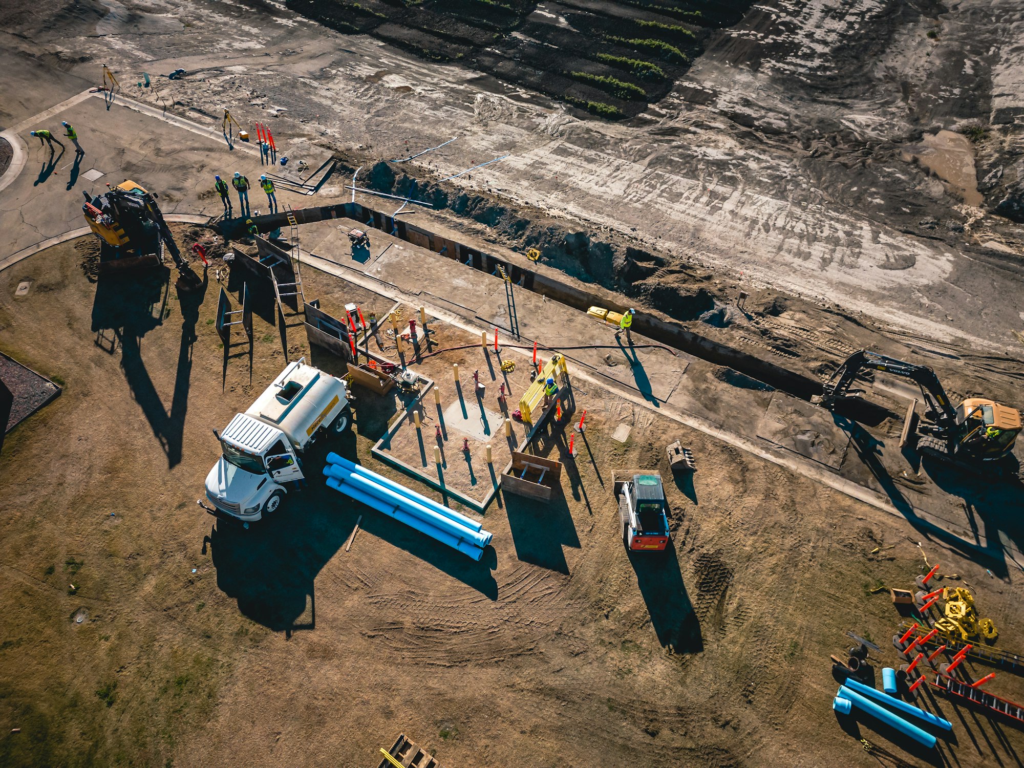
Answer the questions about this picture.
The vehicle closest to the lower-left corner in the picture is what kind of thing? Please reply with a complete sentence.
What you see as the vehicle closest to the lower-left corner is a truck.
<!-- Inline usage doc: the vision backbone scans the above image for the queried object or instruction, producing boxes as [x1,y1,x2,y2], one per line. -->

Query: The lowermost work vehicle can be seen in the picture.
[609,474,677,553]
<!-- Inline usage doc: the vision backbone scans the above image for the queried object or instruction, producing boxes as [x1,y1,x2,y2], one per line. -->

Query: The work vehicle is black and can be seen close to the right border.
[804,339,1024,489]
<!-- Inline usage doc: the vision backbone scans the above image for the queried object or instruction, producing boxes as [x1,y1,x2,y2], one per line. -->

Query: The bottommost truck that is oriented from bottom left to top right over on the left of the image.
[180,347,358,531]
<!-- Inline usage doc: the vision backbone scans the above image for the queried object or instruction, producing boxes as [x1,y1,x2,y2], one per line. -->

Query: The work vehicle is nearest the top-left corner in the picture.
[90,163,200,294]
